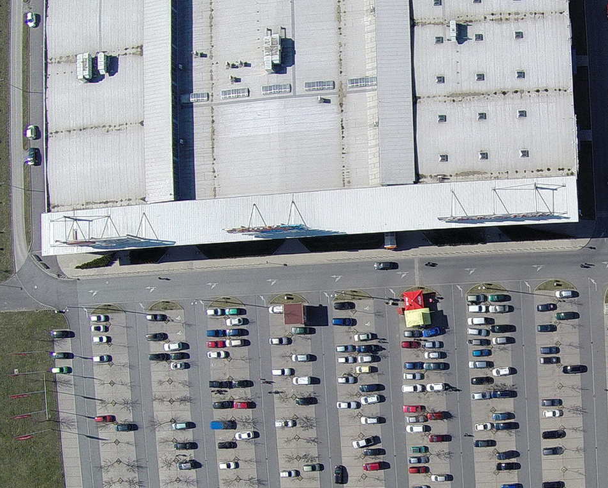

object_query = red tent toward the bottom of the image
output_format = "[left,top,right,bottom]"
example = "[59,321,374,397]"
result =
[404,290,424,310]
